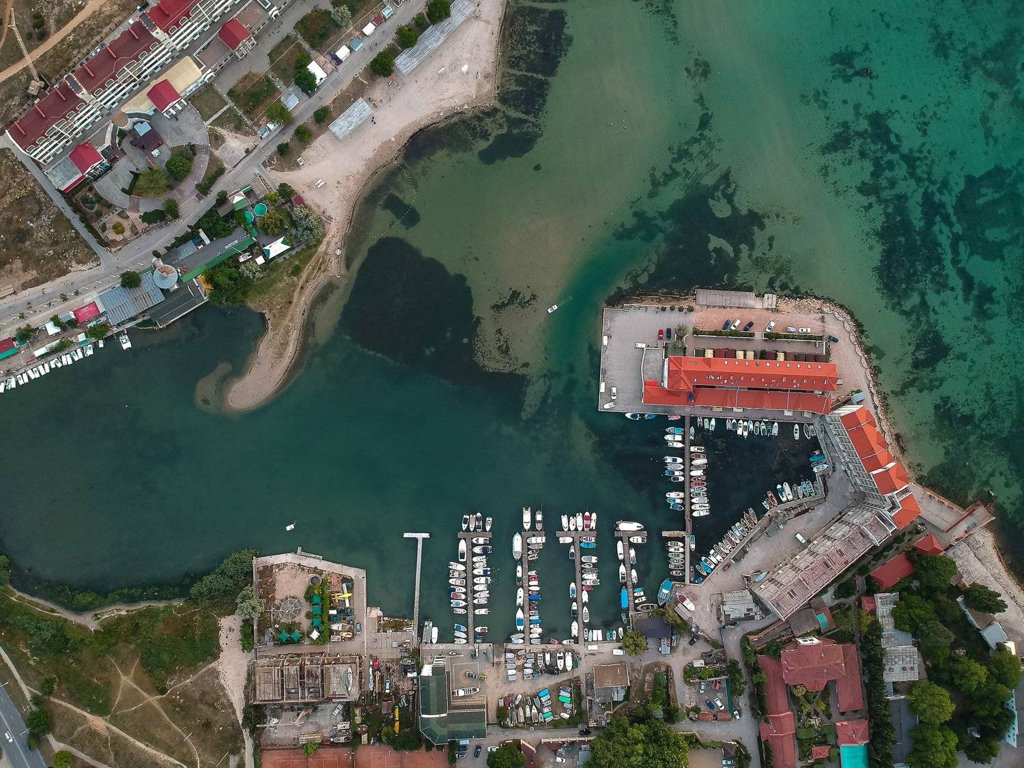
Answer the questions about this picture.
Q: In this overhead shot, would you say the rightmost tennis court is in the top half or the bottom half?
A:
bottom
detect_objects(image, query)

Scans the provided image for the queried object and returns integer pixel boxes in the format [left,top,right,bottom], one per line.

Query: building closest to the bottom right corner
[997,682,1020,747]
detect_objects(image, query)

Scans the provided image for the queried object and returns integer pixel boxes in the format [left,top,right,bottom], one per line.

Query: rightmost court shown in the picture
[355,746,447,768]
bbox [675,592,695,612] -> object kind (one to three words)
boat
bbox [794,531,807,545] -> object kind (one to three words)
vehicle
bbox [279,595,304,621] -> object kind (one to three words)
gazebo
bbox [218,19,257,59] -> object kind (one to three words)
building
